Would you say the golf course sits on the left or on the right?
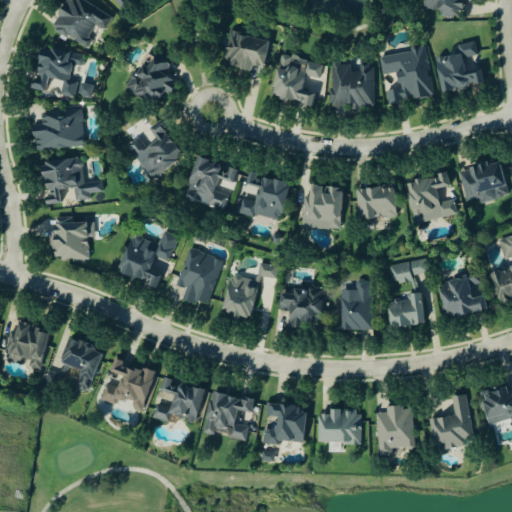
left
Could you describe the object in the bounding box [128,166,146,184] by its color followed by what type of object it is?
blue swimming pool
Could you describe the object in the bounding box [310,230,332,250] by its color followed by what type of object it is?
blue swimming pool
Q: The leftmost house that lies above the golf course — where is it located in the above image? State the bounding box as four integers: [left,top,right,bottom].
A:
[2,320,49,370]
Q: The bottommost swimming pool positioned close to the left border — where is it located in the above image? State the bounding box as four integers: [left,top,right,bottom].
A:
[4,364,28,378]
